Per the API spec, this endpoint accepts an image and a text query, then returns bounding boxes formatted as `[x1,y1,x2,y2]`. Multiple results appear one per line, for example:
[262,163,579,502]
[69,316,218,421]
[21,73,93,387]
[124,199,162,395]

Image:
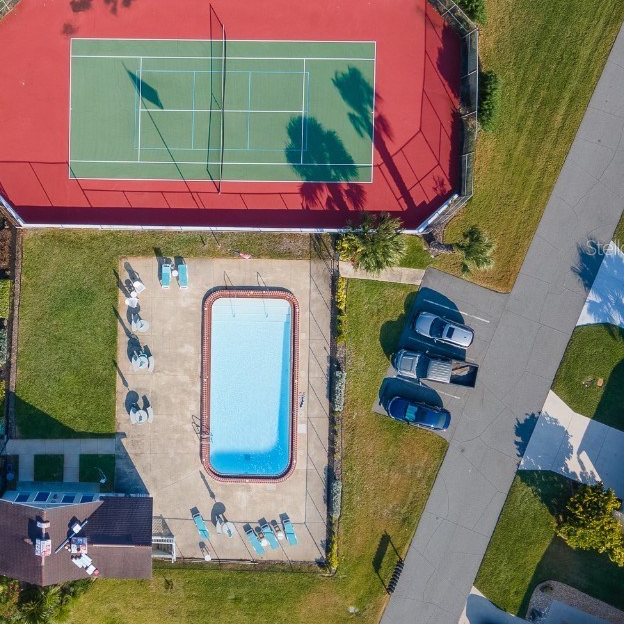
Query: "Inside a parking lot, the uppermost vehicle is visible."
[414,310,476,352]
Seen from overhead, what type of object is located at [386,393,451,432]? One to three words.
car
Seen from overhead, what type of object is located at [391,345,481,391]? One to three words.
truck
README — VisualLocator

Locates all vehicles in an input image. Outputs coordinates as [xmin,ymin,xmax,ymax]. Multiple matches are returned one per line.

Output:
[386,393,451,432]
[414,310,476,352]
[391,345,481,391]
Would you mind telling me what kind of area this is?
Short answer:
sports ground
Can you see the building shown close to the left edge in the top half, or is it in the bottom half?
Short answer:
bottom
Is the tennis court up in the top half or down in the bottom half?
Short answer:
top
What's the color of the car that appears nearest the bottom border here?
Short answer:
blue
